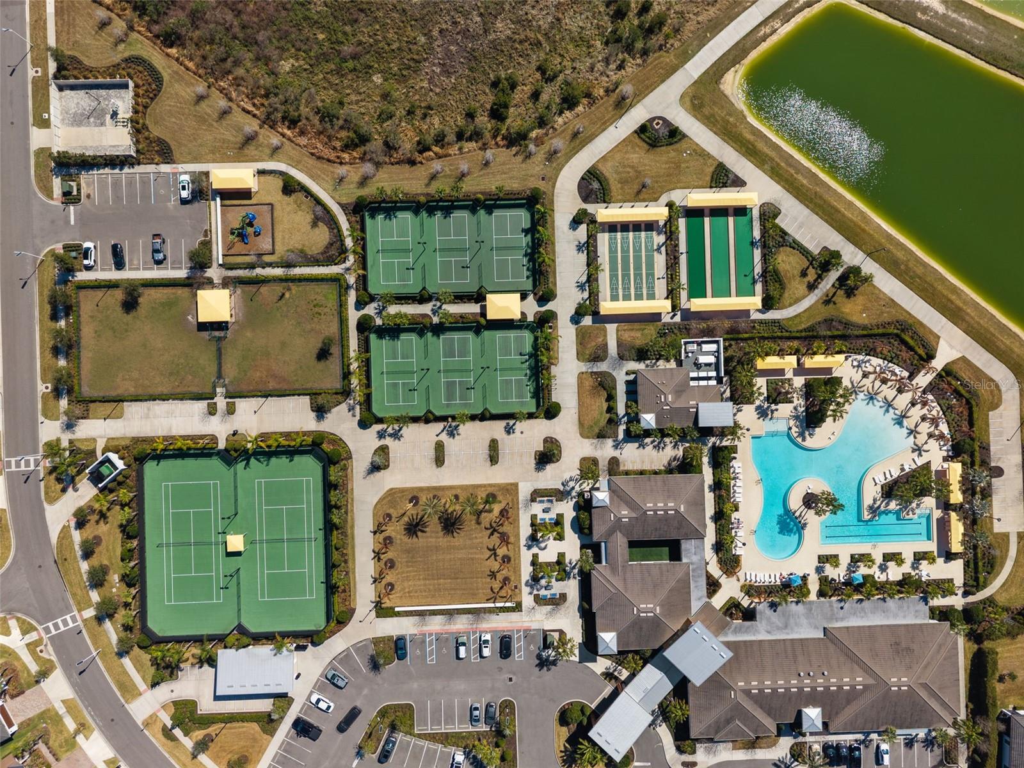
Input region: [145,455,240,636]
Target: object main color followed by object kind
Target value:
green tennis court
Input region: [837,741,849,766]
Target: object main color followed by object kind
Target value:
black vehicle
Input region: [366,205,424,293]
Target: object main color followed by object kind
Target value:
green sports court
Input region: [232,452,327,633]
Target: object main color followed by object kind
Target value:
green tennis court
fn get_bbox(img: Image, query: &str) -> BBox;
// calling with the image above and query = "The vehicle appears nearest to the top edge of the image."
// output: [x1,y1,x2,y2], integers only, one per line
[178,175,191,201]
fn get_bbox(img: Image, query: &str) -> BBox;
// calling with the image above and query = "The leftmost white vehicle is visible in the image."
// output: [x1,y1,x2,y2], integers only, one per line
[83,243,96,268]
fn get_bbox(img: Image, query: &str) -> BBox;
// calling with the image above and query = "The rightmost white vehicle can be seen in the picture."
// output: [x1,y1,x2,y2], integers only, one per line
[877,741,891,766]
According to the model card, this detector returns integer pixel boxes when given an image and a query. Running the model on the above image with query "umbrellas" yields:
[789,574,802,587]
[851,572,864,584]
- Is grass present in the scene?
Yes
